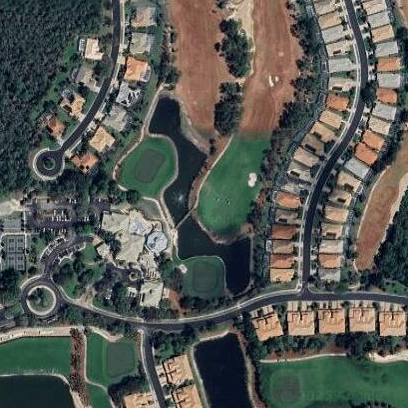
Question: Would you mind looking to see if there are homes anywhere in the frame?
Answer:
Yes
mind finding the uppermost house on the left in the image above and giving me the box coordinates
[135,8,157,25]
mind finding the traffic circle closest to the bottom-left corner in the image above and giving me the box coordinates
[20,279,61,320]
